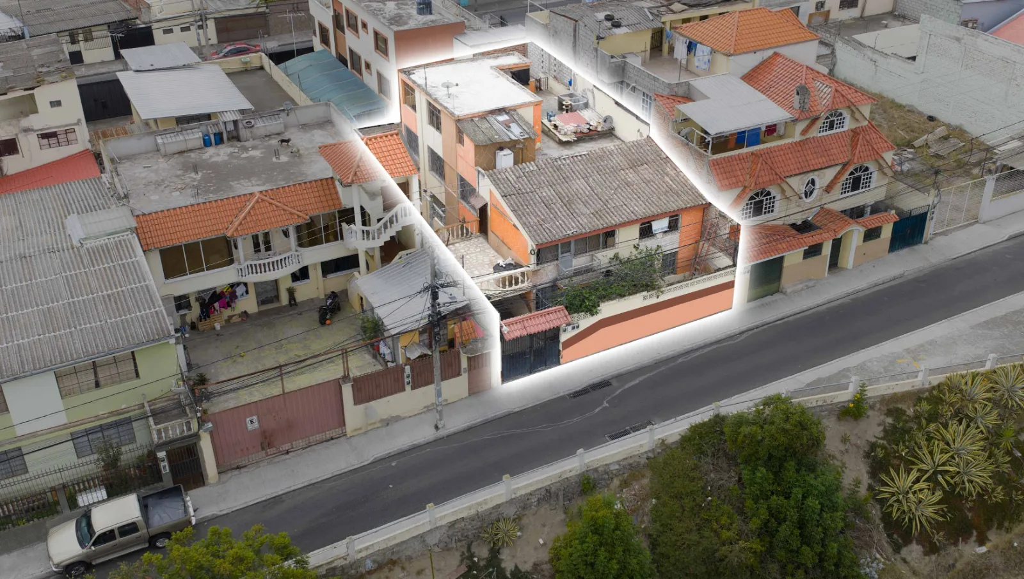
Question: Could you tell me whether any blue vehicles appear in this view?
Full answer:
No, the photo shows no blue vehicle.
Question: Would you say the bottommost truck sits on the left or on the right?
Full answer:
The bottommost truck appears in the left half of the scene.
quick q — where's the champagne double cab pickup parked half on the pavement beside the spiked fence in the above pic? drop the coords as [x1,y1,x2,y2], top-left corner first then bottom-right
[47,482,202,575]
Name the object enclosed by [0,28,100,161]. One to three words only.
house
